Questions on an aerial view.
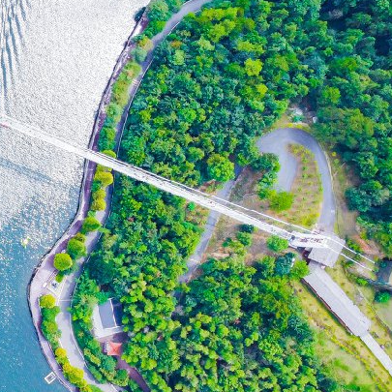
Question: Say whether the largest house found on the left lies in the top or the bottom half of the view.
bottom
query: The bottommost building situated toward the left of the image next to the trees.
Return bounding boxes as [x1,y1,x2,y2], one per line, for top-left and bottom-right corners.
[97,298,127,329]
